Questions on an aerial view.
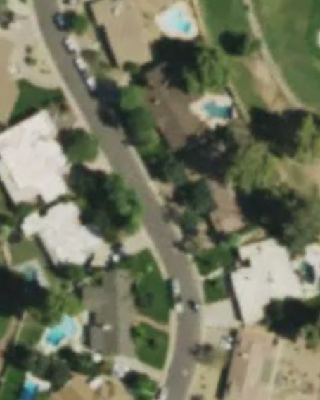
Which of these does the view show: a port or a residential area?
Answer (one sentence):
This looks like a residential area.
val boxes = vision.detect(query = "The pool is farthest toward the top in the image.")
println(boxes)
[158,2,198,37]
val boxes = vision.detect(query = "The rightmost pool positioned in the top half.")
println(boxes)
[201,93,235,127]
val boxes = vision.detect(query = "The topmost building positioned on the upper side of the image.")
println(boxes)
[90,0,162,68]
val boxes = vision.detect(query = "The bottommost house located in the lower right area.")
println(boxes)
[220,324,278,400]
